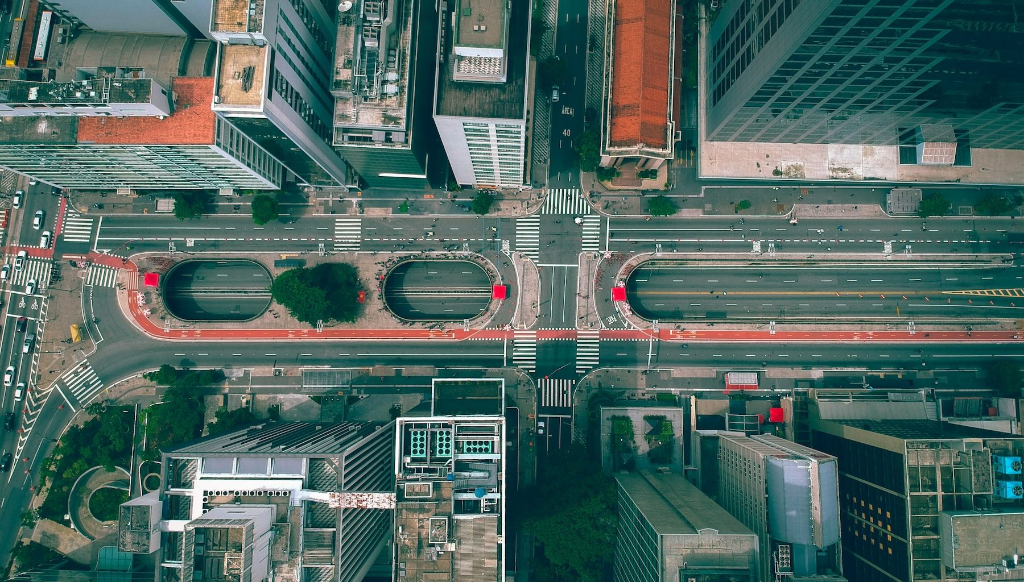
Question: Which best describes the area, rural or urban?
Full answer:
This place is urban.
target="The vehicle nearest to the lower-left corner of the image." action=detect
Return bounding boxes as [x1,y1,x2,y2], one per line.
[1,448,18,477]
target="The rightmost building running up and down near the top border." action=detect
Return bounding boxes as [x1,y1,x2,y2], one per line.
[596,0,677,189]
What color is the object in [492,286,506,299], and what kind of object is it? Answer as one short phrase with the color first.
red gazebo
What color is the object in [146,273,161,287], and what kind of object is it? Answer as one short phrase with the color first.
red gazebo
